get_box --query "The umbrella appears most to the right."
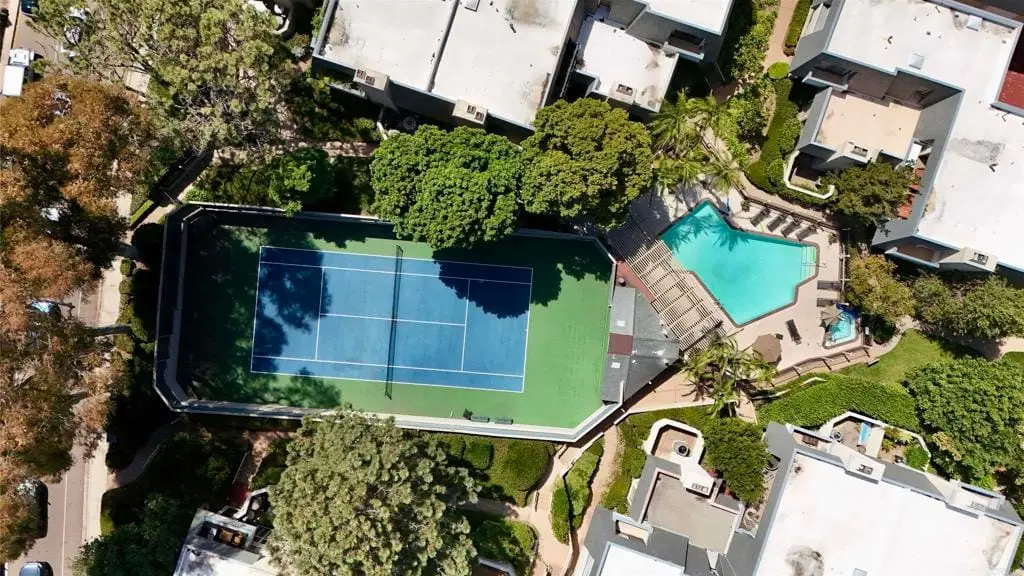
[816,306,839,327]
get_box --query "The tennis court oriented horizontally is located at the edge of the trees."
[180,215,610,426]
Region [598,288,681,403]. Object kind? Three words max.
building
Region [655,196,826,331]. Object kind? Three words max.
swimming pool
